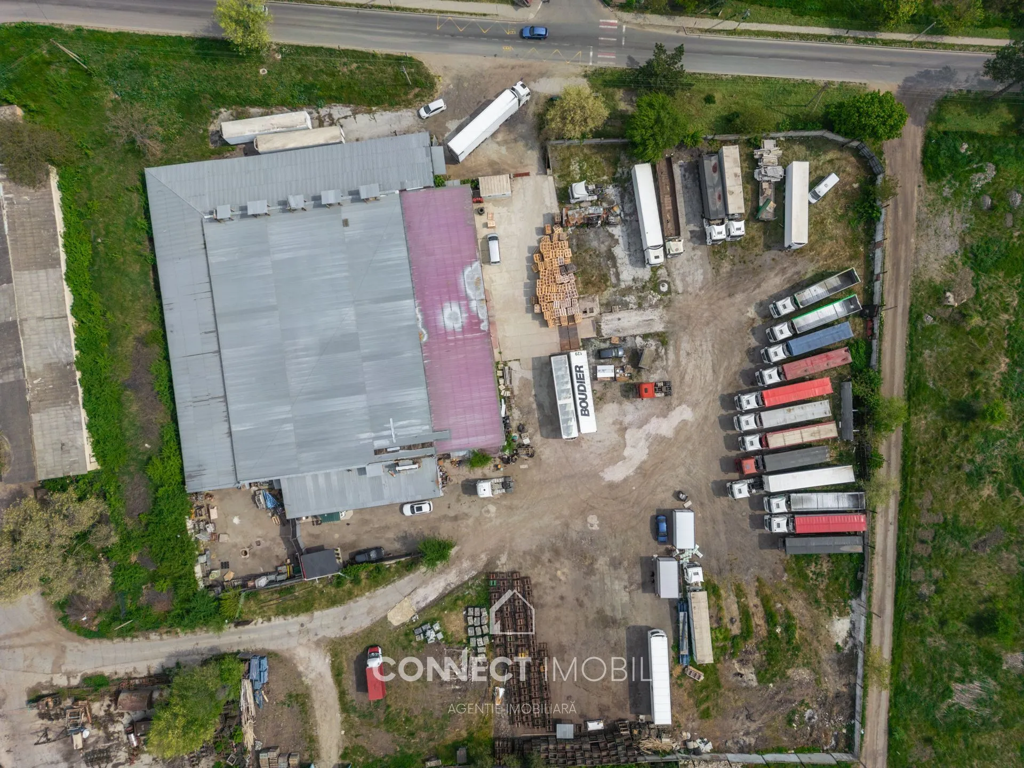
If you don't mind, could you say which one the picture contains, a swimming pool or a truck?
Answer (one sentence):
The one in the frame is a truck.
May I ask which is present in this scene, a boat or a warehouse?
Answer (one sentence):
The image shows a warehouse.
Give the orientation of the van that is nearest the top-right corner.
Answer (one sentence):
What the image shows is the van that is nearest the top-right corner lying diagonally.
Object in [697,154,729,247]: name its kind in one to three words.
truck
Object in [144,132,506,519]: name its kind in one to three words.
warehouse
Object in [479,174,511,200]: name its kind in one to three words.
building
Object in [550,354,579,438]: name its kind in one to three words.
vehicle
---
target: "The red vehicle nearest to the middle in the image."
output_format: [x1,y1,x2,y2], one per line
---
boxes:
[636,380,672,400]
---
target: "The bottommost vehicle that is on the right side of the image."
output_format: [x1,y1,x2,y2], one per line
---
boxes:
[647,623,671,725]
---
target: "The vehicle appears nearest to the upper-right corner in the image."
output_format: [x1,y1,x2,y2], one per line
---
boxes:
[808,169,845,206]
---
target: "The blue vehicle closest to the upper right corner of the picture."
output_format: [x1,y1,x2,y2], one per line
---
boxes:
[758,321,854,365]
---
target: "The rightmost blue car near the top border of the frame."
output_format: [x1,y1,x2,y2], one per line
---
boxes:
[520,27,548,41]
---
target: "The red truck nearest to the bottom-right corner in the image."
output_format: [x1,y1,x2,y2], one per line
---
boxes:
[762,511,868,534]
